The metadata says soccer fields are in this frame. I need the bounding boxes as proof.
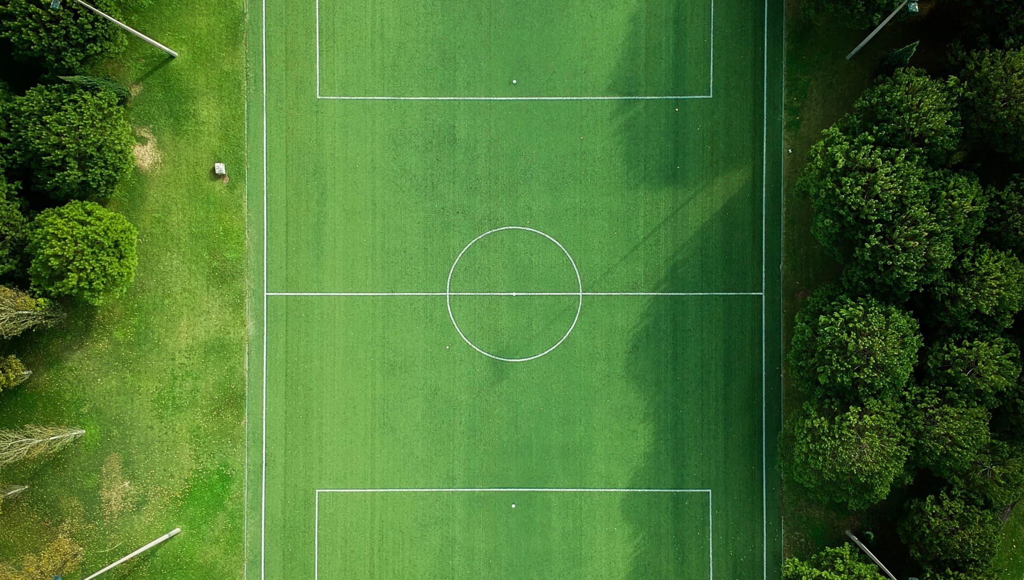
[247,0,783,580]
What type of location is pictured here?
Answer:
sports ground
